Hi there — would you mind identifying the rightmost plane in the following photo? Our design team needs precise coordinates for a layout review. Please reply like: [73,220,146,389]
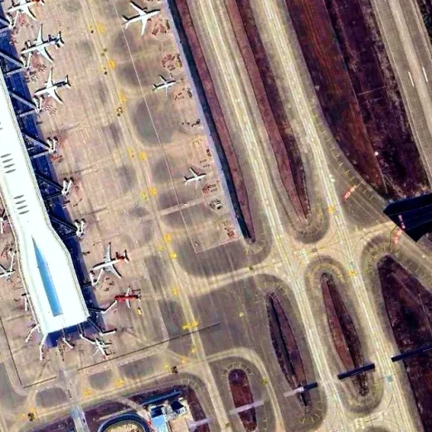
[182,169,205,189]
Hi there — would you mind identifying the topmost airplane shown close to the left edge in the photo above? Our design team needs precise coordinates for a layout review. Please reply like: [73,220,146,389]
[7,0,43,20]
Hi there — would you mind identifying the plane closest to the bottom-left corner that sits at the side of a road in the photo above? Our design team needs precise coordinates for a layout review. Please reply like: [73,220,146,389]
[92,339,111,360]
